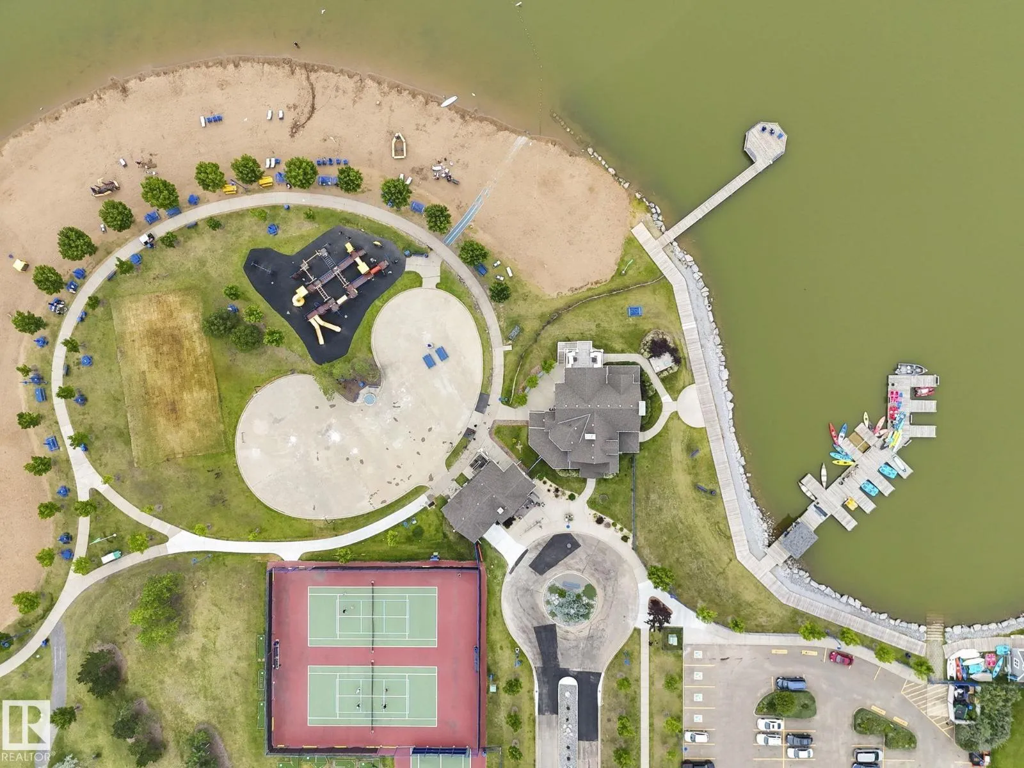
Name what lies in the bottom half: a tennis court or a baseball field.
tennis court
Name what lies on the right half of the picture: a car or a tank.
car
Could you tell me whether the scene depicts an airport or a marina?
marina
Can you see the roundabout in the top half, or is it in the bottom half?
bottom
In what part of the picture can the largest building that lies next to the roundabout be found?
center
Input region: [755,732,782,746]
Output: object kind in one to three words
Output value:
car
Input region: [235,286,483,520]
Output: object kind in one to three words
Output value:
sports court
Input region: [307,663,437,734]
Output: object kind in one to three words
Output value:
tennis court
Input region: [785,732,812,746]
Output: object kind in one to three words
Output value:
car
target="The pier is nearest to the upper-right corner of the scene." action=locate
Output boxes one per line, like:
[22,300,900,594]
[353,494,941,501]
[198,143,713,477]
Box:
[657,121,788,248]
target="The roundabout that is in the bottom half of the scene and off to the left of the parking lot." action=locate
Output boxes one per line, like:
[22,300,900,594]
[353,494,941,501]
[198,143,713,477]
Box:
[502,533,637,768]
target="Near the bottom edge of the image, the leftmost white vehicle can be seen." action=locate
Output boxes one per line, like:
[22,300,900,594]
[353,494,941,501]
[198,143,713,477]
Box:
[684,729,708,743]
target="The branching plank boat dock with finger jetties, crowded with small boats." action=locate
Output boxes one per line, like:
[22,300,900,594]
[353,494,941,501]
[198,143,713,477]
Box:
[761,376,939,570]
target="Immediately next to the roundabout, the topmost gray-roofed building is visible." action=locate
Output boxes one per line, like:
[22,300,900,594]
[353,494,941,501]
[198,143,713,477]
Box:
[528,365,646,480]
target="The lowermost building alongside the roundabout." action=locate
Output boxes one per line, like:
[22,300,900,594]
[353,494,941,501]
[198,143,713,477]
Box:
[440,461,536,543]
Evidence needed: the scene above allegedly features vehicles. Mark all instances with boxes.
[853,747,883,763]
[786,746,813,759]
[756,717,783,731]
[755,732,782,746]
[683,760,714,768]
[827,650,855,666]
[785,732,812,746]
[776,675,807,690]
[684,729,708,743]
[851,762,880,768]
[139,232,158,246]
